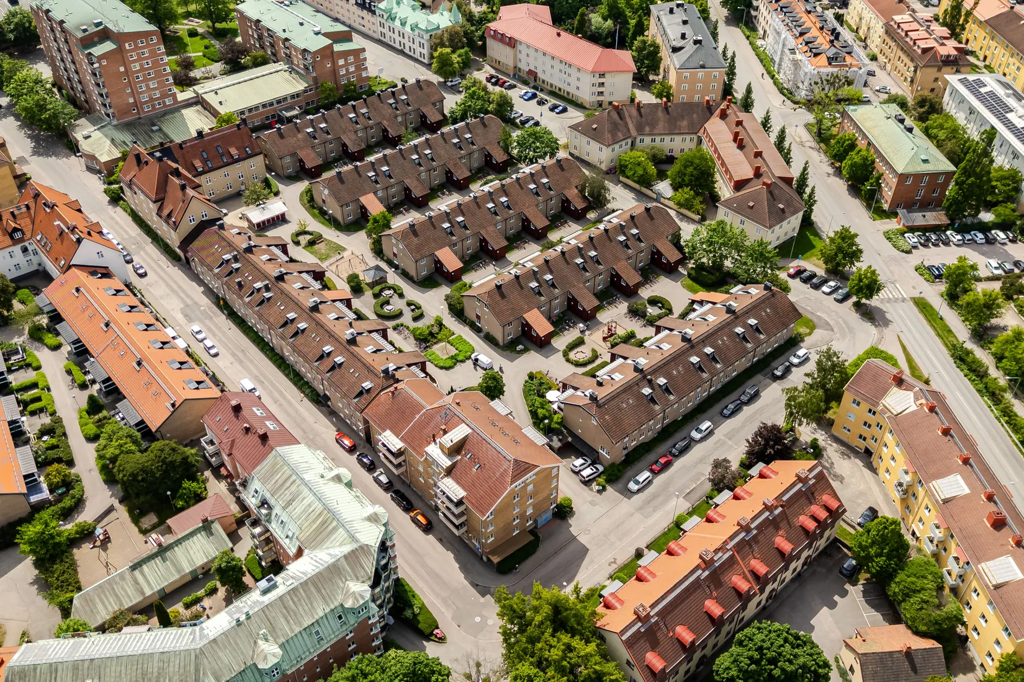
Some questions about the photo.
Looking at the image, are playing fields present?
No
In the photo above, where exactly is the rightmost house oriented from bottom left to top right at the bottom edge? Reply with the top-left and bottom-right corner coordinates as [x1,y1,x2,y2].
[585,460,845,682]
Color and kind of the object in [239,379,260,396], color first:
white vehicle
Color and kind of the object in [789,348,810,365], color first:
white car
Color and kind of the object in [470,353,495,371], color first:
white vehicle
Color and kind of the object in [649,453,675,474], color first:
red car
